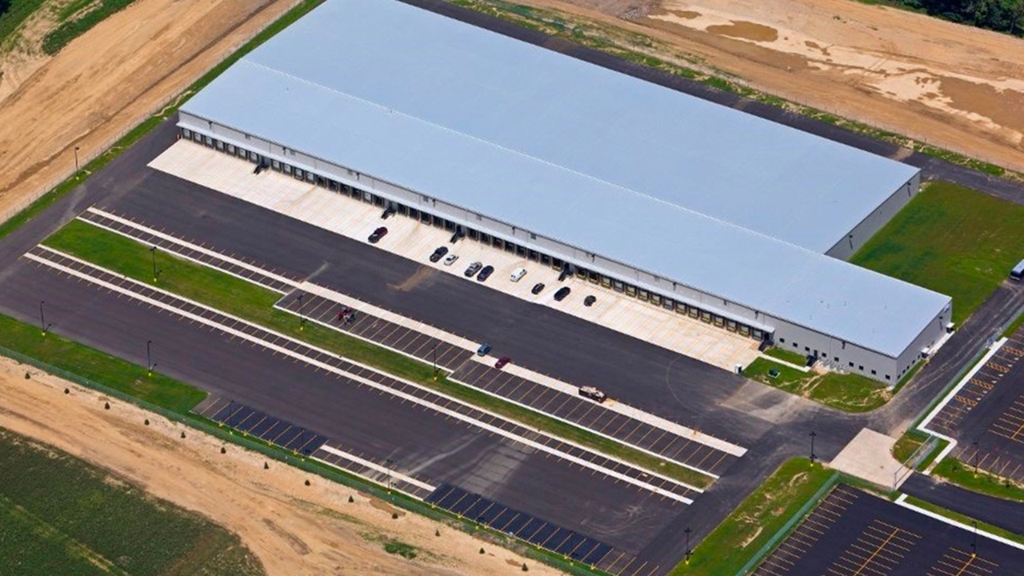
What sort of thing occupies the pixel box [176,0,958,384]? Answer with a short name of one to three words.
warehouse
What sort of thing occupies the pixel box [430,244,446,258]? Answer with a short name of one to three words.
car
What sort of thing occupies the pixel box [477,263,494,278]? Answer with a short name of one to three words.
car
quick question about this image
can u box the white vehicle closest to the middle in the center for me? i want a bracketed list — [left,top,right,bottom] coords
[510,267,525,280]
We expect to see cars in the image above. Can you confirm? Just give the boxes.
[554,284,571,299]
[475,339,493,354]
[494,355,511,367]
[531,282,544,292]
[466,259,482,274]
[443,253,458,264]
[430,244,446,258]
[582,294,596,305]
[370,225,386,239]
[477,263,494,278]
